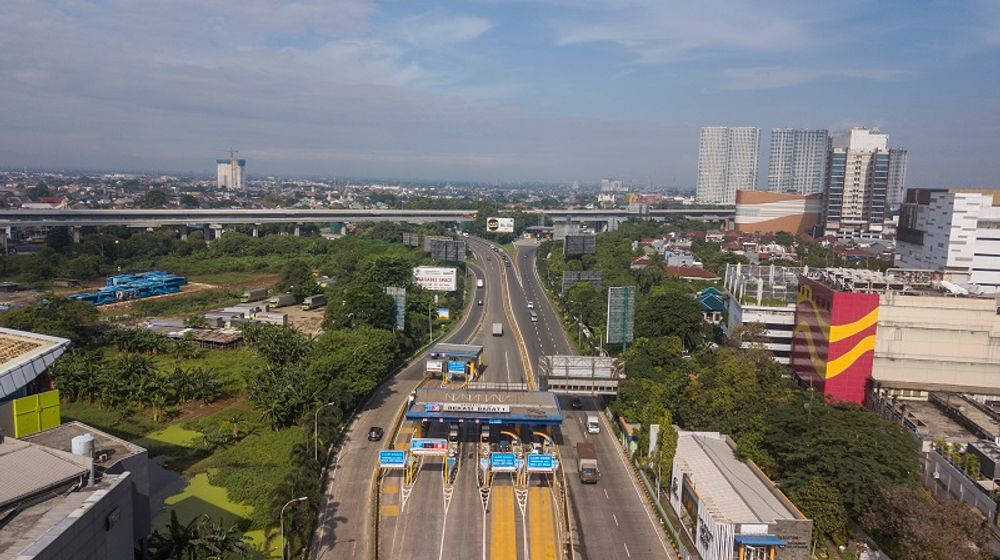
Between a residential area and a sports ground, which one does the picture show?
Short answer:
residential area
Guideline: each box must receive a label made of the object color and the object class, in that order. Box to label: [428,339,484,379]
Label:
gray toll station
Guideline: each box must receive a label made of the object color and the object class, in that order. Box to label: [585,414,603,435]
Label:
white car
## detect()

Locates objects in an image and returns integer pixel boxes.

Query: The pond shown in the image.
[138,419,278,560]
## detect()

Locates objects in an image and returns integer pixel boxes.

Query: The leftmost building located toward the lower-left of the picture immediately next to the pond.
[0,330,149,560]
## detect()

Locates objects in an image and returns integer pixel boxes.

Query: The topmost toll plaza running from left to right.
[521,223,553,237]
